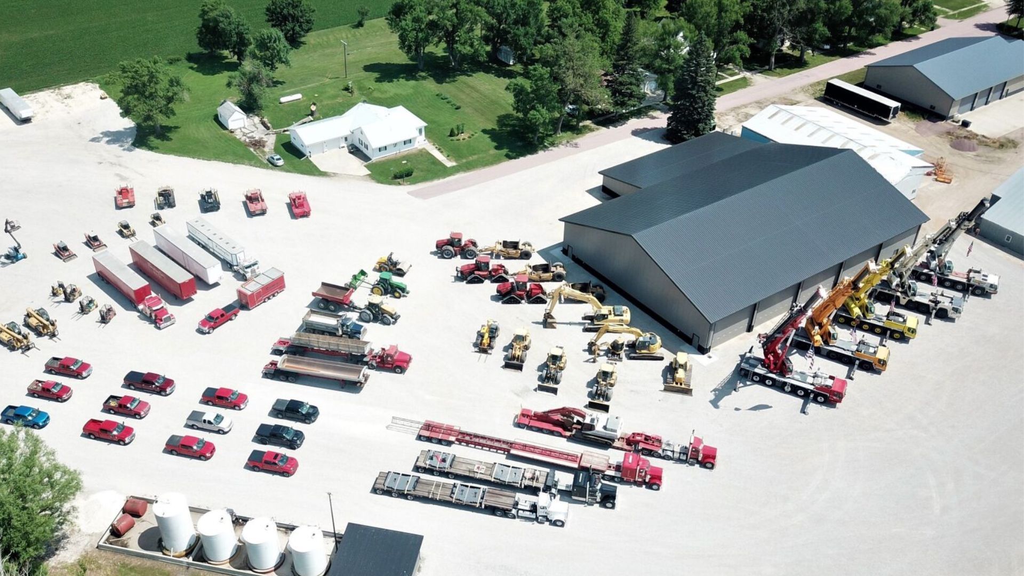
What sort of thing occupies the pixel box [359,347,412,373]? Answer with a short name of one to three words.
truck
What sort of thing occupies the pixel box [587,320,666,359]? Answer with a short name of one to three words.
work vehicle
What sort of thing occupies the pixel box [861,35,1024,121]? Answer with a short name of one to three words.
building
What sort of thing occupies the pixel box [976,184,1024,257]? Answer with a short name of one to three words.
building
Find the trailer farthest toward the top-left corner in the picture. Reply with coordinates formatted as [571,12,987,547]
[0,88,36,126]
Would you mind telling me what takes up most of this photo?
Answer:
paved ground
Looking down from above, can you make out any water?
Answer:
No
